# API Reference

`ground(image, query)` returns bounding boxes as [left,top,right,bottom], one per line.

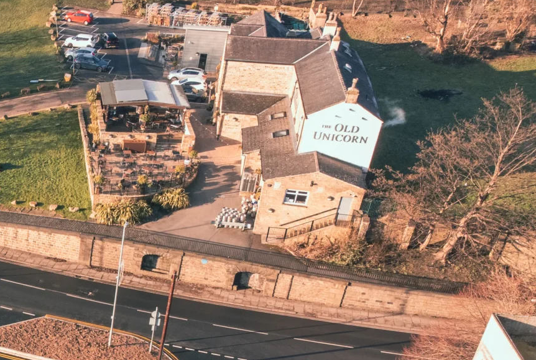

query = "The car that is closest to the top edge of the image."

[65,9,94,22]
